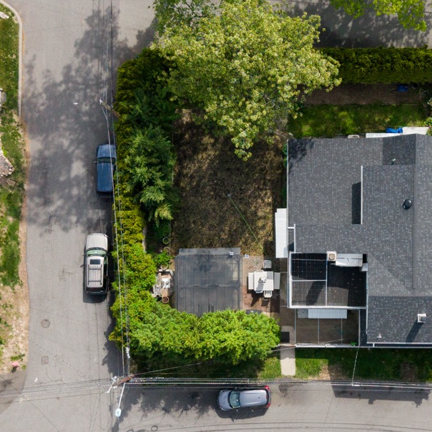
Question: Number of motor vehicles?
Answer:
3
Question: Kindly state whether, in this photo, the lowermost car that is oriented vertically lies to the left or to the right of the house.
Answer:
left of it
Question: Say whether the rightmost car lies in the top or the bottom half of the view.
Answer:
bottom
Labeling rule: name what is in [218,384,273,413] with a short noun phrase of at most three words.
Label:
car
